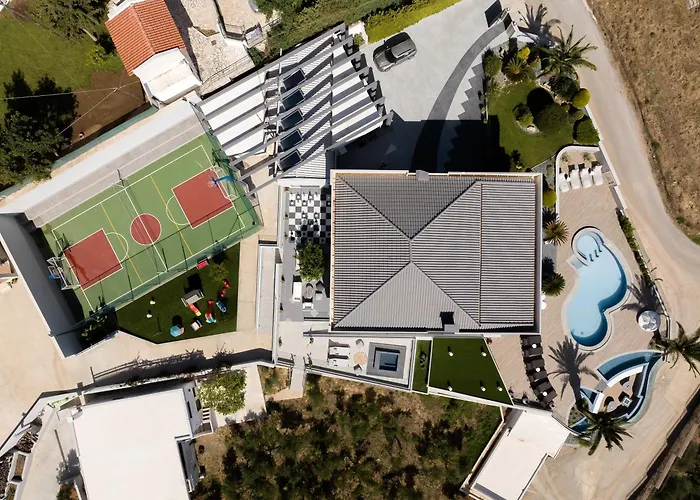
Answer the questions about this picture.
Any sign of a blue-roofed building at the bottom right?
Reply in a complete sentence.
No, there's no blue-roofed building to be seen at the bottom right.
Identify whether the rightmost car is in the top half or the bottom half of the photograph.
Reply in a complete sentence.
Seen from above, the rightmost car lies in the top half of the view.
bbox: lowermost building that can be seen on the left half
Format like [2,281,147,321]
[70,374,218,500]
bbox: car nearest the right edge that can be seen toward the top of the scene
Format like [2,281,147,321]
[373,32,418,70]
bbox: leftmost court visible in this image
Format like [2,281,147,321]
[41,133,261,332]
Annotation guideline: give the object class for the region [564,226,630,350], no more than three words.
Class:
swimming pool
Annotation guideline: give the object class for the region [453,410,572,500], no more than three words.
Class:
building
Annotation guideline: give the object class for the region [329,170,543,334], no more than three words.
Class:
house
